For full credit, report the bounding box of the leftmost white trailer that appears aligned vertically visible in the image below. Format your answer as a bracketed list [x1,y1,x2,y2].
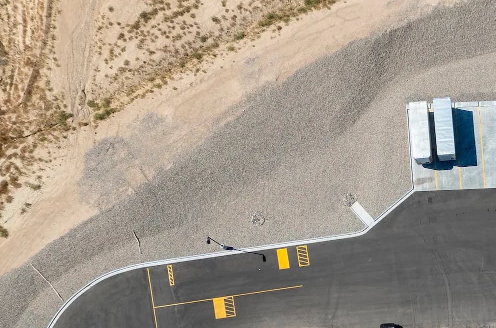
[409,100,433,166]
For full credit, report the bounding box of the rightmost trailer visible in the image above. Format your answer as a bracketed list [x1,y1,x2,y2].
[434,96,456,164]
